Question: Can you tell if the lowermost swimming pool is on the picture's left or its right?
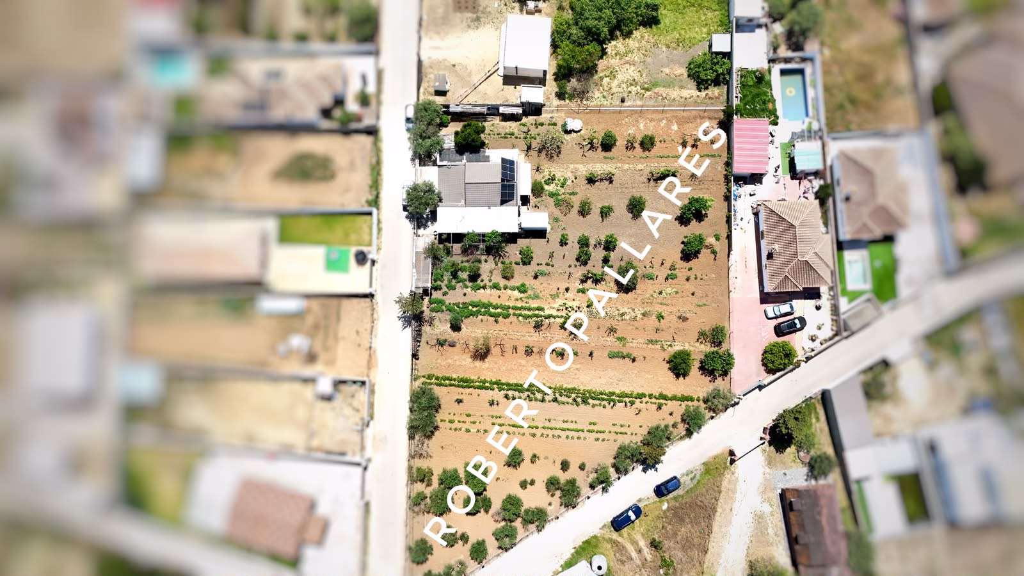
right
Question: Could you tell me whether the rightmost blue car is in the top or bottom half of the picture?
bottom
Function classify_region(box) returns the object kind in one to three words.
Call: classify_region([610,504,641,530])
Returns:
car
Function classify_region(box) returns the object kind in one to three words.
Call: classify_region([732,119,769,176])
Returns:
building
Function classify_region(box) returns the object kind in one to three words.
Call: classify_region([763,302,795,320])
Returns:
car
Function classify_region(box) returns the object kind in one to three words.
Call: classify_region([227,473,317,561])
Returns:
house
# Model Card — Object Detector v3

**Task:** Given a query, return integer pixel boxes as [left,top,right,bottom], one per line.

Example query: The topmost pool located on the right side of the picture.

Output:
[772,61,817,131]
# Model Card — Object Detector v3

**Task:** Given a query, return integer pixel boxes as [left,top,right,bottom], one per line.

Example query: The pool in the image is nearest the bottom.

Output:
[844,250,872,293]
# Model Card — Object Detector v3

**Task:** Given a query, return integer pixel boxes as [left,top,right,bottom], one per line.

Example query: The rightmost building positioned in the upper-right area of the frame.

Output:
[940,37,1024,187]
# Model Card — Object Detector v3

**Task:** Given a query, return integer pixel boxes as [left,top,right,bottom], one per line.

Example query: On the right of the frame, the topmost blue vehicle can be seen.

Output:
[653,474,681,497]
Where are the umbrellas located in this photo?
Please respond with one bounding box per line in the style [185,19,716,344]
[355,250,369,264]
